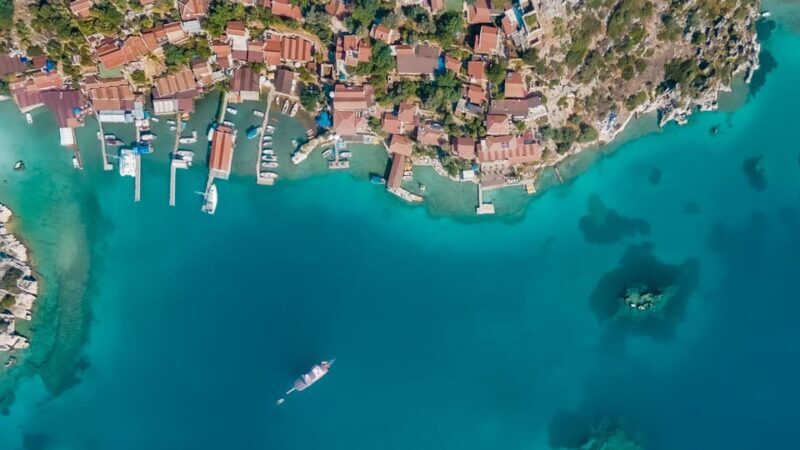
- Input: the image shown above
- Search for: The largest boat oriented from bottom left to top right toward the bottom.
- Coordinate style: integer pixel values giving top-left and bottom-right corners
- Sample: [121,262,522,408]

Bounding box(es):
[287,365,334,393]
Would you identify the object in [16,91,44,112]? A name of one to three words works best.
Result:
building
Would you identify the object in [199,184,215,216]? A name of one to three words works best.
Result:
boat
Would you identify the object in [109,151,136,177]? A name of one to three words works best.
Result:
boat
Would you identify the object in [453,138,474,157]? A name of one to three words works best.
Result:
house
